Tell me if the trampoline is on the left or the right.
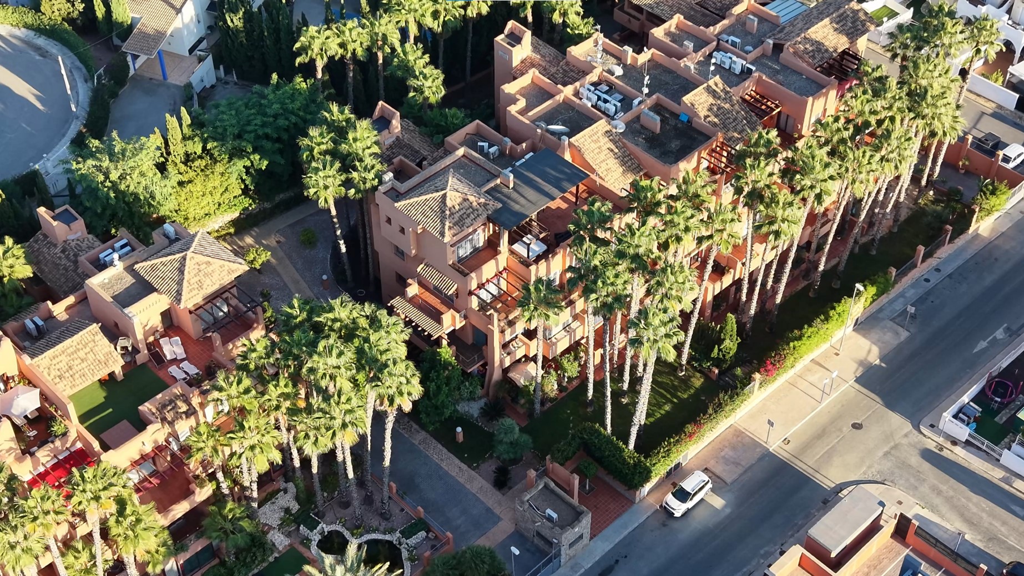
right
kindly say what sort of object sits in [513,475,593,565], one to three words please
shed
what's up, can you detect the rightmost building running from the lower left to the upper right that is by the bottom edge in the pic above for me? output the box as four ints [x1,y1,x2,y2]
[804,484,886,568]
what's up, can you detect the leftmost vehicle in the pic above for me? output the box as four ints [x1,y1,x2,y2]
[661,467,714,517]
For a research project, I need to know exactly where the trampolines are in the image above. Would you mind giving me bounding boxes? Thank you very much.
[981,363,1024,414]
